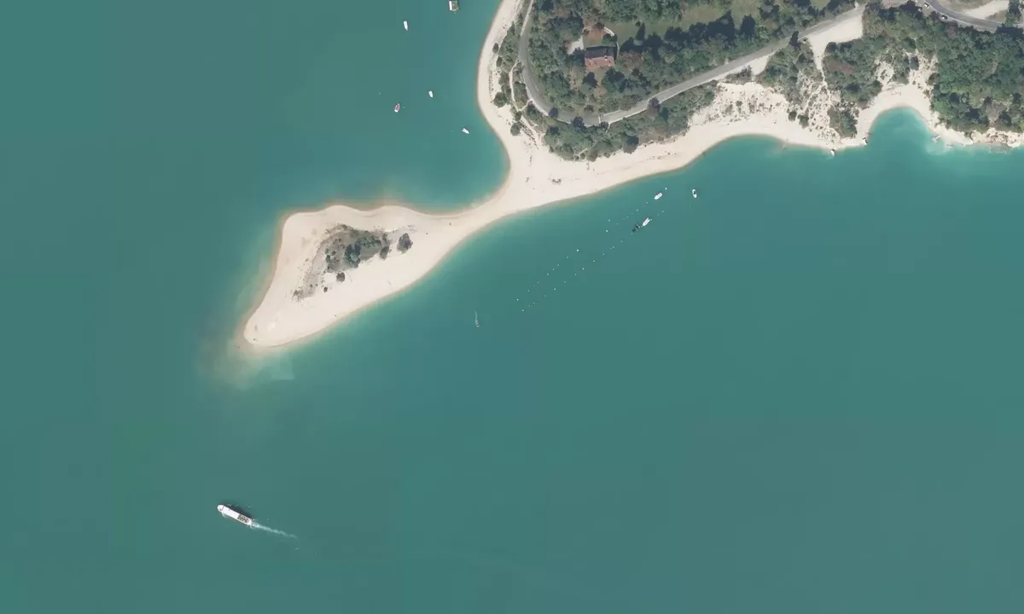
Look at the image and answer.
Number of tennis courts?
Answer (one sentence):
The picture shows no tennis courts.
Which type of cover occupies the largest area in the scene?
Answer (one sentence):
What you mostly see from above here is water.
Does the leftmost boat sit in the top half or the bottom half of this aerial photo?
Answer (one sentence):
The leftmost boat is in the bottom half of the image.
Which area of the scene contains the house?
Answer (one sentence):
You can find the house in the top area of the picture.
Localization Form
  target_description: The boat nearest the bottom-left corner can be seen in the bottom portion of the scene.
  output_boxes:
[217,505,255,526]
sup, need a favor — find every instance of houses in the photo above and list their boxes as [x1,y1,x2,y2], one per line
[586,45,616,66]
